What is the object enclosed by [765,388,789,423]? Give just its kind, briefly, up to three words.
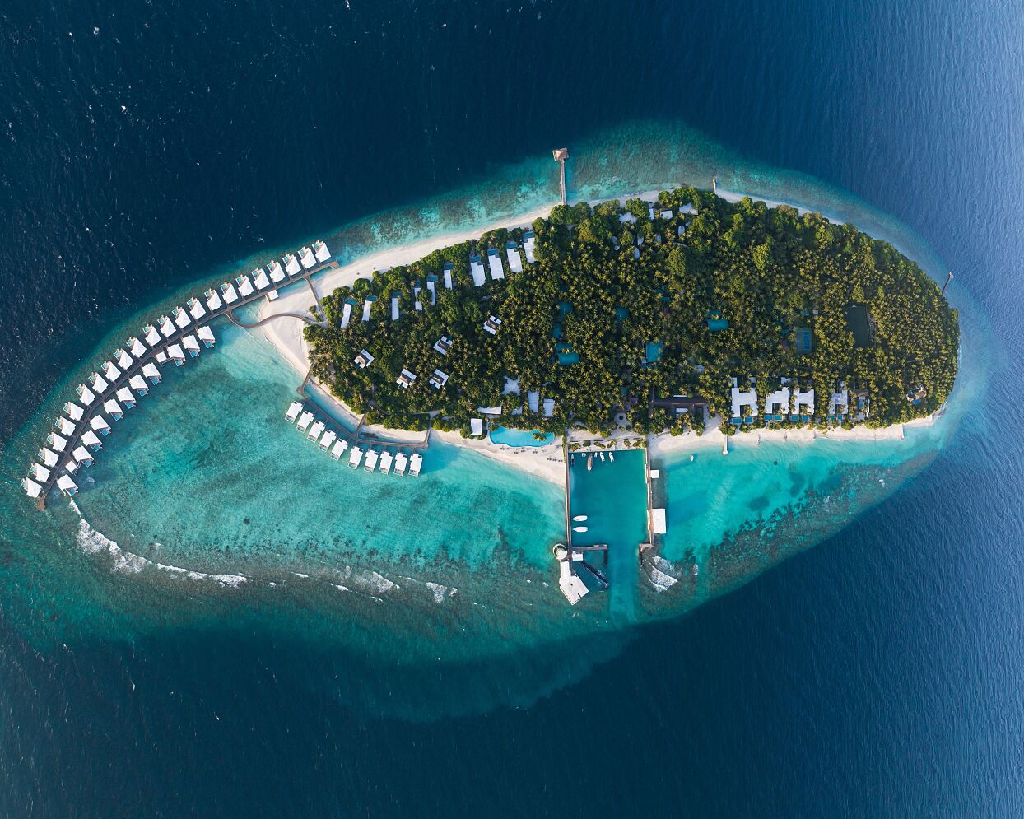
house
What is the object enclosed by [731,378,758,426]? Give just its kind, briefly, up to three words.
house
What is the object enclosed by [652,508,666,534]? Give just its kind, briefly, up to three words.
building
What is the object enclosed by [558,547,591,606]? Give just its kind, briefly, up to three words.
building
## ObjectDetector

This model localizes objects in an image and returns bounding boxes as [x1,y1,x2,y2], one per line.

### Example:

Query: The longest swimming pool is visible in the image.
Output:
[489,424,555,447]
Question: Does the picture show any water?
Yes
